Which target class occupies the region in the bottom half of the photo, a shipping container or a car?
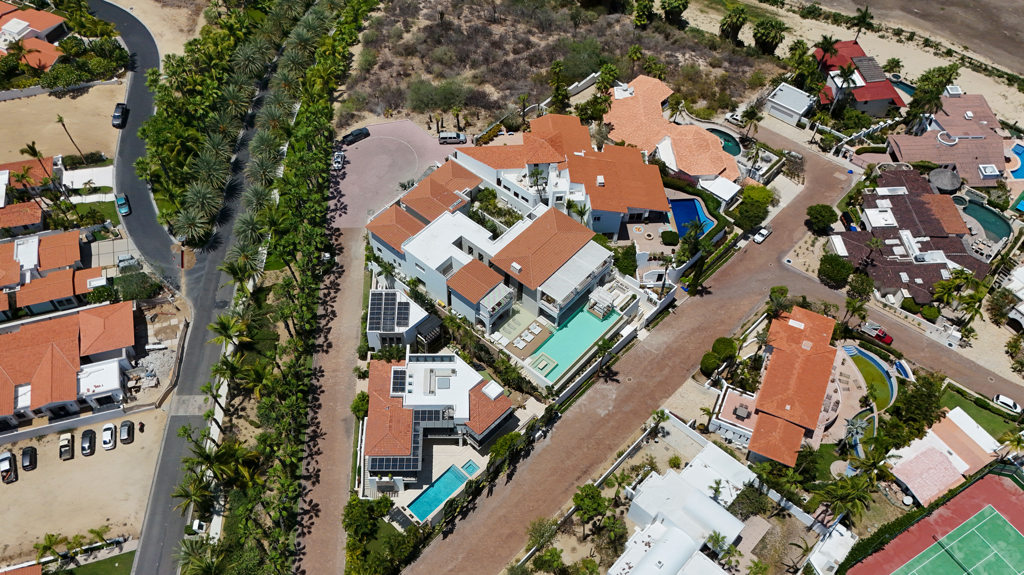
car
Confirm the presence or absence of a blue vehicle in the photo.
Yes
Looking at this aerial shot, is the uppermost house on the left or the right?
left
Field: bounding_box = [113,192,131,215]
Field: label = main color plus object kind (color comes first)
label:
blue vehicle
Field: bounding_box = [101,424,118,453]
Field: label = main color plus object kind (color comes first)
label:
white car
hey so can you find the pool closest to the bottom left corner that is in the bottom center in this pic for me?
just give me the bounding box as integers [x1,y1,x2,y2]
[407,461,471,524]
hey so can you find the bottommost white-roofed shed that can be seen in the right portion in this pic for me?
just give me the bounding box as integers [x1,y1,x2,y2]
[807,523,858,575]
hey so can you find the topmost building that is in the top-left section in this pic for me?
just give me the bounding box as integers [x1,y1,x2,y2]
[0,2,67,76]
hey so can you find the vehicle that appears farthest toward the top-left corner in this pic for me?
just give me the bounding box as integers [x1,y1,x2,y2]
[112,106,127,125]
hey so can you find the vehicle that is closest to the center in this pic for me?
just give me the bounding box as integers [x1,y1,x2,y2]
[440,132,466,144]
